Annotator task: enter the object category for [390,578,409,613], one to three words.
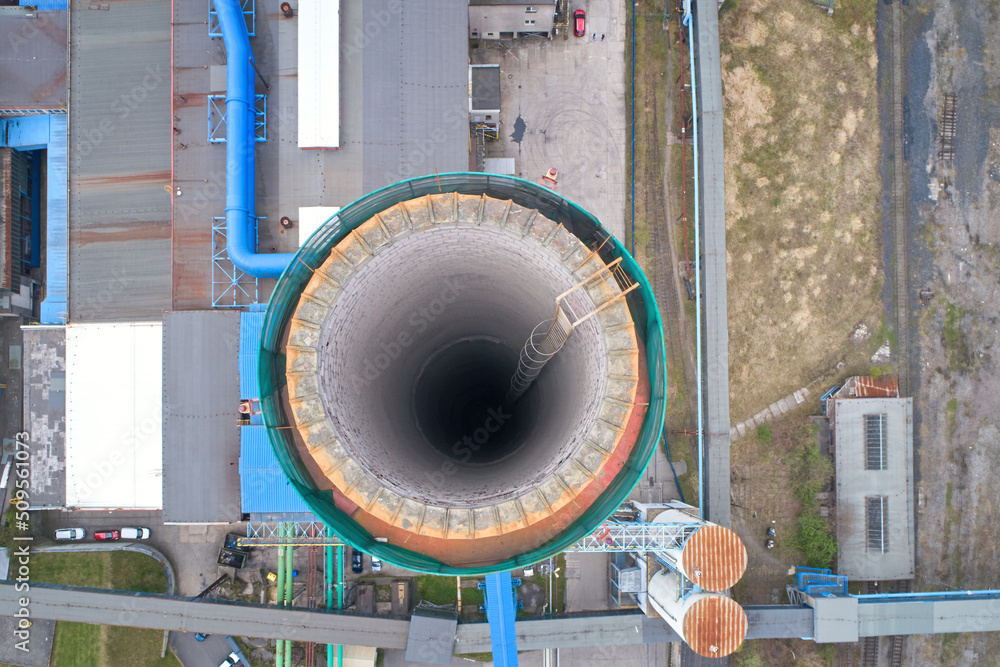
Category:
shed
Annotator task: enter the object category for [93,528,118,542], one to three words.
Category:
vehicle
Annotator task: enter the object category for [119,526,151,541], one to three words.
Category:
vehicle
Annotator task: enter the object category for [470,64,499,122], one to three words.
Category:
building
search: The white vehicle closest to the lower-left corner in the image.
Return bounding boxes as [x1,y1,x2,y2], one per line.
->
[54,527,86,542]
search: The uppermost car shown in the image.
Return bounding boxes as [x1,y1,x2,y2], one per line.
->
[573,9,587,37]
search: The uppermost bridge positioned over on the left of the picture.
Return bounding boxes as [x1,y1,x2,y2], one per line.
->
[237,521,345,547]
